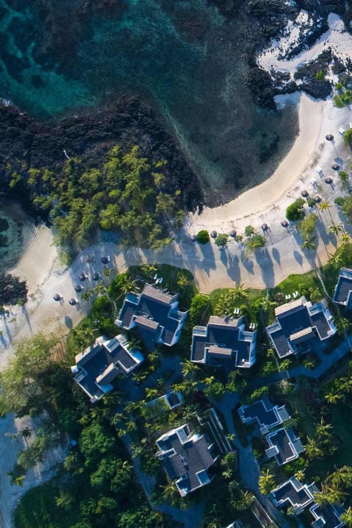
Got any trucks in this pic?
No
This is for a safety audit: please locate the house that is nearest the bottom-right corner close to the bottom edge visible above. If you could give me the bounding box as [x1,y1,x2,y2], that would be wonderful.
[310,496,346,528]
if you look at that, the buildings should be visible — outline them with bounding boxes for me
[164,390,185,410]
[188,313,260,369]
[242,395,291,435]
[115,287,192,352]
[153,419,218,497]
[265,425,306,466]
[271,474,321,515]
[265,296,339,360]
[310,496,346,528]
[76,334,153,405]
